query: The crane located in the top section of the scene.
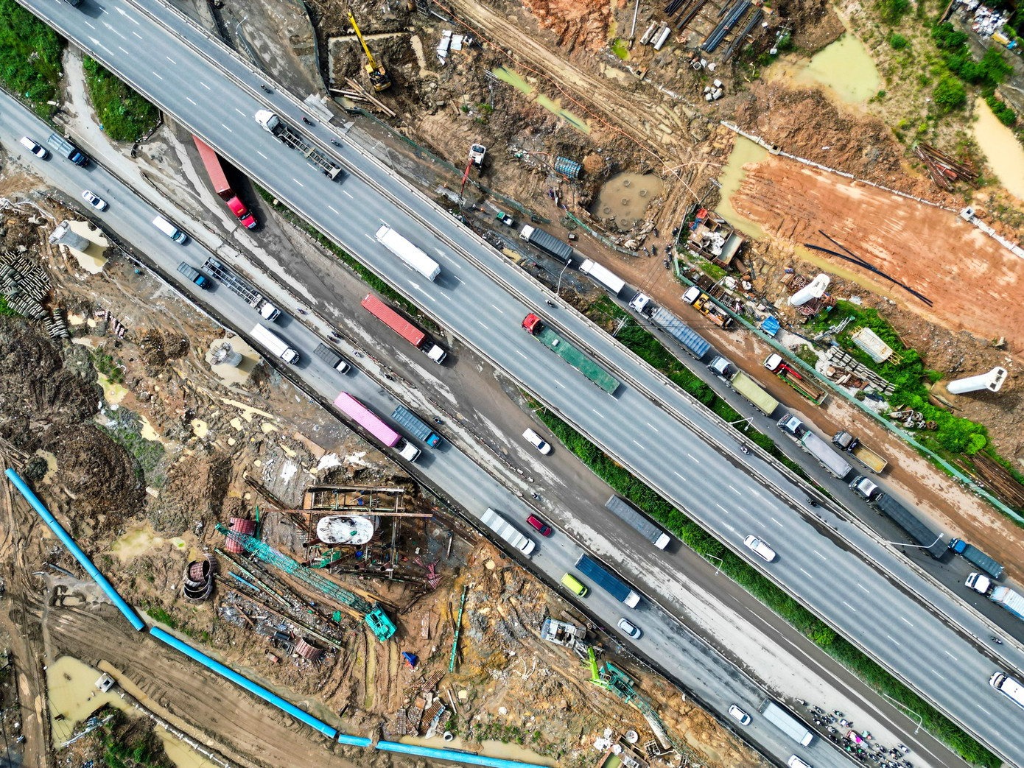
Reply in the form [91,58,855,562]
[346,9,394,93]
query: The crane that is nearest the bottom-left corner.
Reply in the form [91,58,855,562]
[214,523,407,650]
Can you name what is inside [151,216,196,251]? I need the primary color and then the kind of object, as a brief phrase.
white truck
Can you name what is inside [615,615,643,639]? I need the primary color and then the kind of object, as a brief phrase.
white car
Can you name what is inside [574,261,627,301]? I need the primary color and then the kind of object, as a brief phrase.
white truck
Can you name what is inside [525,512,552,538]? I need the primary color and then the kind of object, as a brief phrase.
red car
